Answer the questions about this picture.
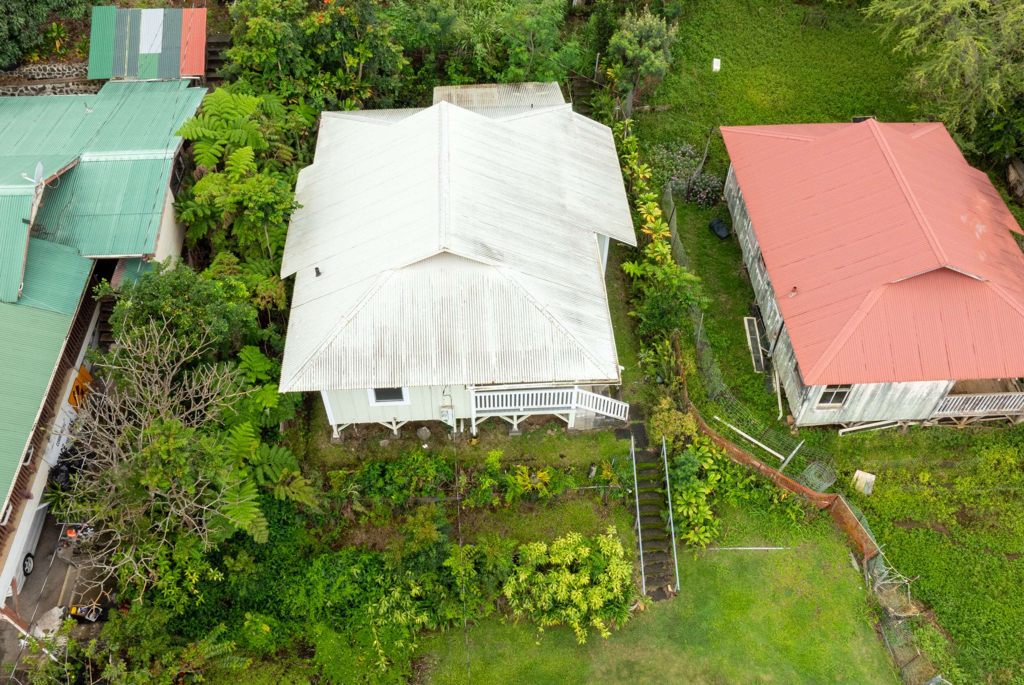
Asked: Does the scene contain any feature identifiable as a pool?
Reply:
No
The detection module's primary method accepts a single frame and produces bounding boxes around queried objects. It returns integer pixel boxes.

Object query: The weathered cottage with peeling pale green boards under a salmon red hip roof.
[719,117,1024,438]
